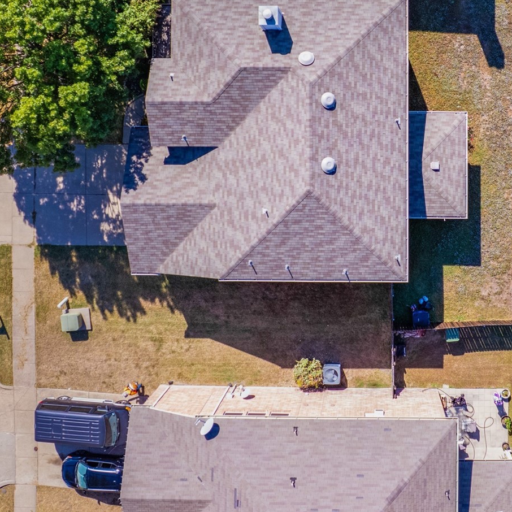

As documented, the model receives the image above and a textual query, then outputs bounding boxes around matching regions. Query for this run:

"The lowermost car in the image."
[64,450,126,498]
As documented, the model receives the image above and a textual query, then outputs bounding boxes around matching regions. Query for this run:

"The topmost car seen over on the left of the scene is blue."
[40,397,132,446]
